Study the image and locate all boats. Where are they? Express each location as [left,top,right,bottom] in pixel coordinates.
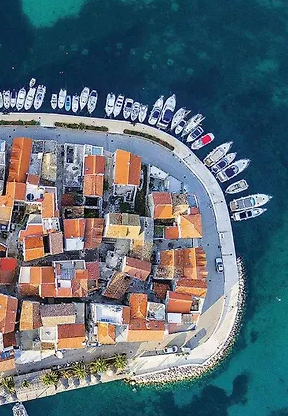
[183,124,205,143]
[57,87,66,111]
[183,113,203,137]
[209,152,237,174]
[214,158,252,184]
[51,92,57,113]
[122,96,133,120]
[24,87,36,113]
[228,208,269,222]
[79,86,90,110]
[146,96,164,127]
[169,107,186,131]
[192,131,216,150]
[88,88,98,117]
[174,120,186,136]
[105,92,116,118]
[10,89,16,111]
[3,88,10,111]
[156,94,176,131]
[65,94,71,112]
[16,87,26,111]
[224,178,249,195]
[226,193,274,213]
[202,141,234,167]
[72,94,79,112]
[33,83,45,113]
[140,102,147,124]
[131,100,140,123]
[114,92,124,120]
[14,401,28,416]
